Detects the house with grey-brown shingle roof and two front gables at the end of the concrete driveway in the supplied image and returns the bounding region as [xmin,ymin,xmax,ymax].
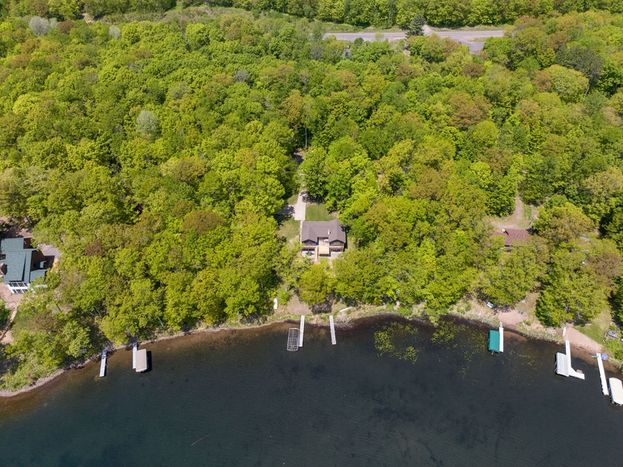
[301,218,346,266]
